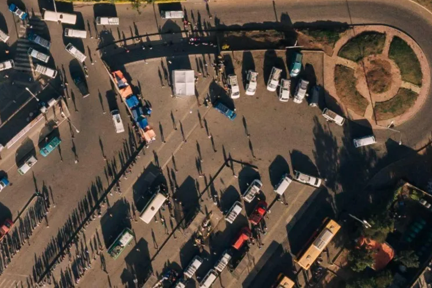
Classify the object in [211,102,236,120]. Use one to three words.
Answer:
vehicle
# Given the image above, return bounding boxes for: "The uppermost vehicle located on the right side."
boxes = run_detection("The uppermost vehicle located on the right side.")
[289,52,301,74]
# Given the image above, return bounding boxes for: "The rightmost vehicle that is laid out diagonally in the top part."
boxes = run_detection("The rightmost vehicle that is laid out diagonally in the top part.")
[320,105,345,125]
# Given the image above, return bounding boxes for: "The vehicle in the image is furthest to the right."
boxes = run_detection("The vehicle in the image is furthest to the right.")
[351,135,375,148]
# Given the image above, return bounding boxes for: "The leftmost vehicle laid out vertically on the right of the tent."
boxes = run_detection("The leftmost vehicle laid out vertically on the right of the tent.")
[226,74,239,97]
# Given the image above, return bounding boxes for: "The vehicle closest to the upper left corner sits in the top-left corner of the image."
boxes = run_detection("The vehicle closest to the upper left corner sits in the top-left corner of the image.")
[7,2,28,21]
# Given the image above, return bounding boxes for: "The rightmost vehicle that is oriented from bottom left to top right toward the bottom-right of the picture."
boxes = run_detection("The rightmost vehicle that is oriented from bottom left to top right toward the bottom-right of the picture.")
[290,214,342,269]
